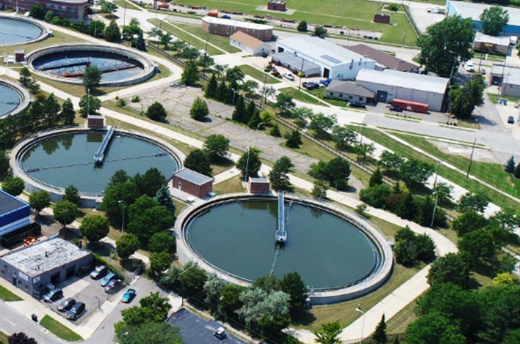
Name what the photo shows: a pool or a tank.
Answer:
tank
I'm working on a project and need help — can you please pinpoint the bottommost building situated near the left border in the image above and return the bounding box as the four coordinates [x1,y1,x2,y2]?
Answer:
[3,235,93,299]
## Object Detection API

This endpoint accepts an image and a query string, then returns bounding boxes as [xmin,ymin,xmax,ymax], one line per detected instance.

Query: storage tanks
[174,190,395,305]
[23,43,159,85]
[0,79,33,120]
[0,15,53,48]
[9,123,187,205]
